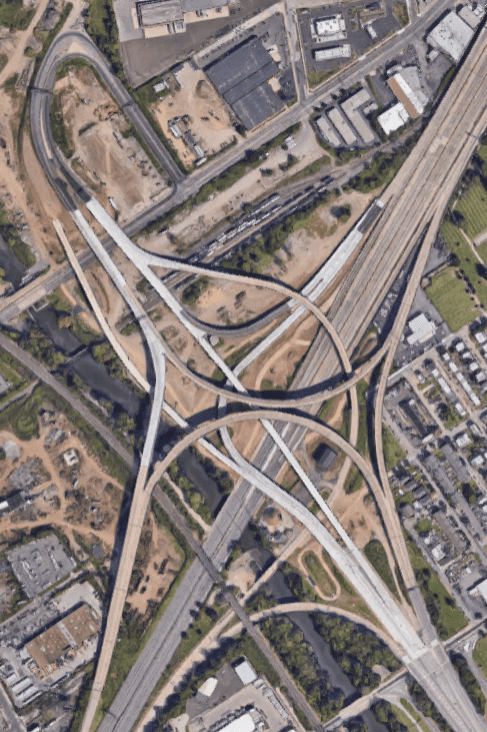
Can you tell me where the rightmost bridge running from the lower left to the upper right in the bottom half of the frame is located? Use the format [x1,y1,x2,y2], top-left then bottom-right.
[320,690,378,732]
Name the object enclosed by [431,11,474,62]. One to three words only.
building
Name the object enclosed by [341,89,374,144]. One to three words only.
building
